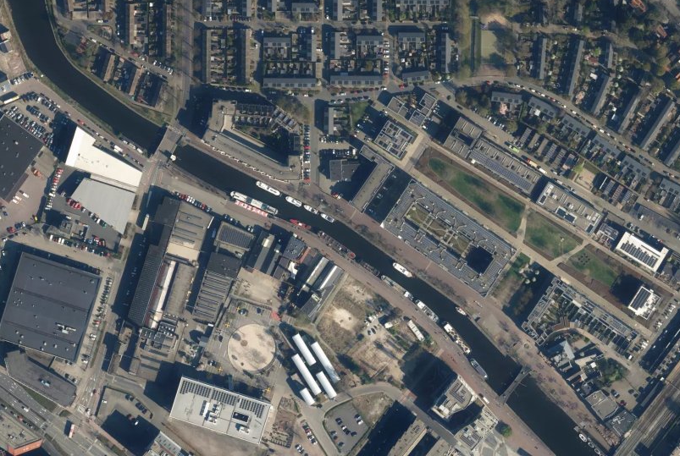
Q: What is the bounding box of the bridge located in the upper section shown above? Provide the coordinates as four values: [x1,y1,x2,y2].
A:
[155,127,183,162]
